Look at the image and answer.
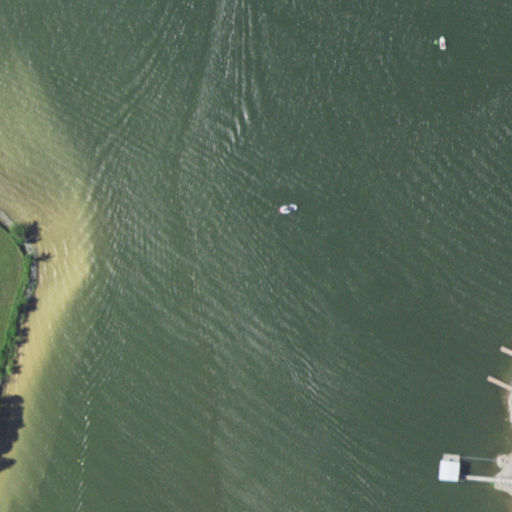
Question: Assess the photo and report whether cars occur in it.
No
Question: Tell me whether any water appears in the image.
Yes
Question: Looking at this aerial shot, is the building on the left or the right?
right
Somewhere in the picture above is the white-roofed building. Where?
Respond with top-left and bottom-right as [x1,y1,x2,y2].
[439,454,463,484]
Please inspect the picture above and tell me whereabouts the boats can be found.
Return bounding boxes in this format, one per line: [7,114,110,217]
[280,204,298,213]
[440,36,446,51]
